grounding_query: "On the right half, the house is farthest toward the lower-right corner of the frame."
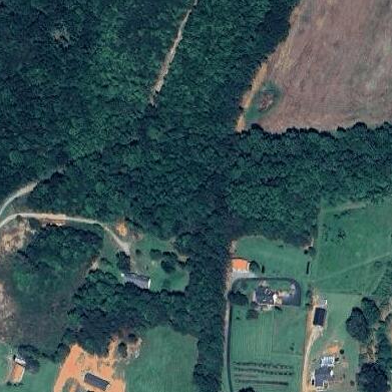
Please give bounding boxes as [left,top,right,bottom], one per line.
[312,363,335,391]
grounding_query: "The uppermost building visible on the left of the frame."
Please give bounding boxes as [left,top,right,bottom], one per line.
[123,273,155,291]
